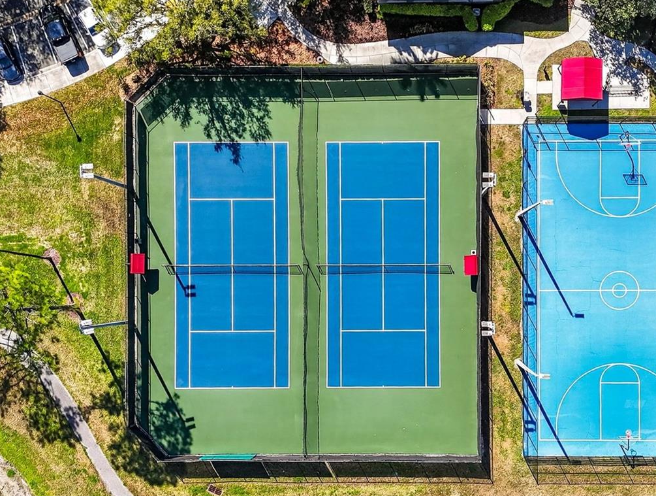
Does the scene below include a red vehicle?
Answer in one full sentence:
No, there appears to be no red vehicle in this shot.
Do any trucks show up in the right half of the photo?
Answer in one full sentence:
No, there is no truck in the right half of the photo.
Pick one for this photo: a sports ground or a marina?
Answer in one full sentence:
The picture captures a sports ground.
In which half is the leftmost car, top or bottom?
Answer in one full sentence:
You can find the leftmost car in the top half.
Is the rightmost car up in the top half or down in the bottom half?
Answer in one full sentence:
The rightmost car is in the top half of the image.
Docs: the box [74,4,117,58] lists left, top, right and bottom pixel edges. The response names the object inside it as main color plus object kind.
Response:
white car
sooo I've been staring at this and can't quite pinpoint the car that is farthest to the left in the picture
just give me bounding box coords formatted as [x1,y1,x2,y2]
[0,35,23,85]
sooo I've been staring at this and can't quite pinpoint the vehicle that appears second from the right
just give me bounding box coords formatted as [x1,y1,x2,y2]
[41,4,86,67]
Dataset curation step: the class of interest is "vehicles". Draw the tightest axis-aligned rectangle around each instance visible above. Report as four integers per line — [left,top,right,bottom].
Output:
[74,4,117,58]
[0,35,23,85]
[41,4,86,67]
